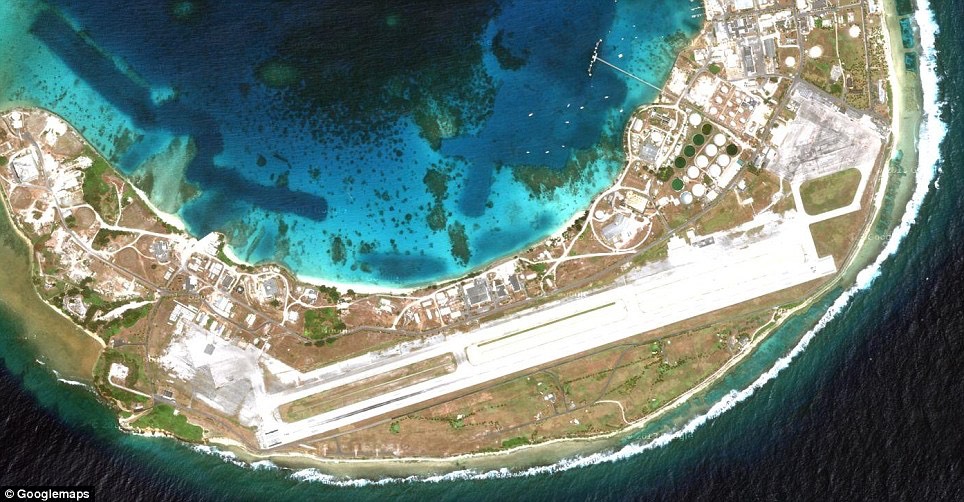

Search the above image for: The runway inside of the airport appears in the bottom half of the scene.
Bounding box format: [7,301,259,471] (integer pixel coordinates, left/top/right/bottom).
[256,255,837,449]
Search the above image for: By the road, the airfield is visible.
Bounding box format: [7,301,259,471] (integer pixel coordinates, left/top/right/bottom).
[159,83,883,449]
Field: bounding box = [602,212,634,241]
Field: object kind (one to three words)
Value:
building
